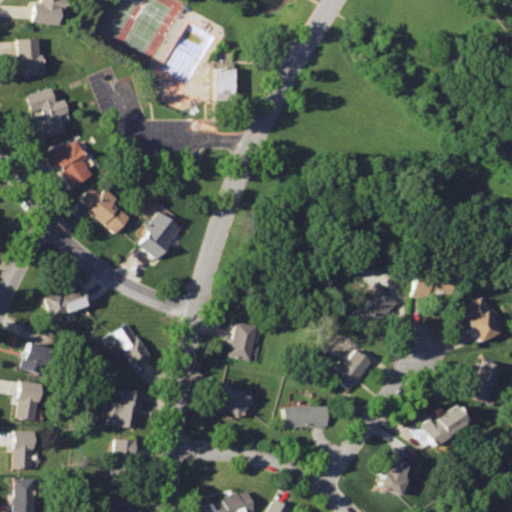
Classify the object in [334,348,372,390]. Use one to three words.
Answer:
house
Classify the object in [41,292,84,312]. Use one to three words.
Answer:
house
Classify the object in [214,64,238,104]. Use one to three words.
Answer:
building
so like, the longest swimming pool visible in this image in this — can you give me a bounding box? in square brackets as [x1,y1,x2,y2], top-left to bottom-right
[165,24,216,84]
